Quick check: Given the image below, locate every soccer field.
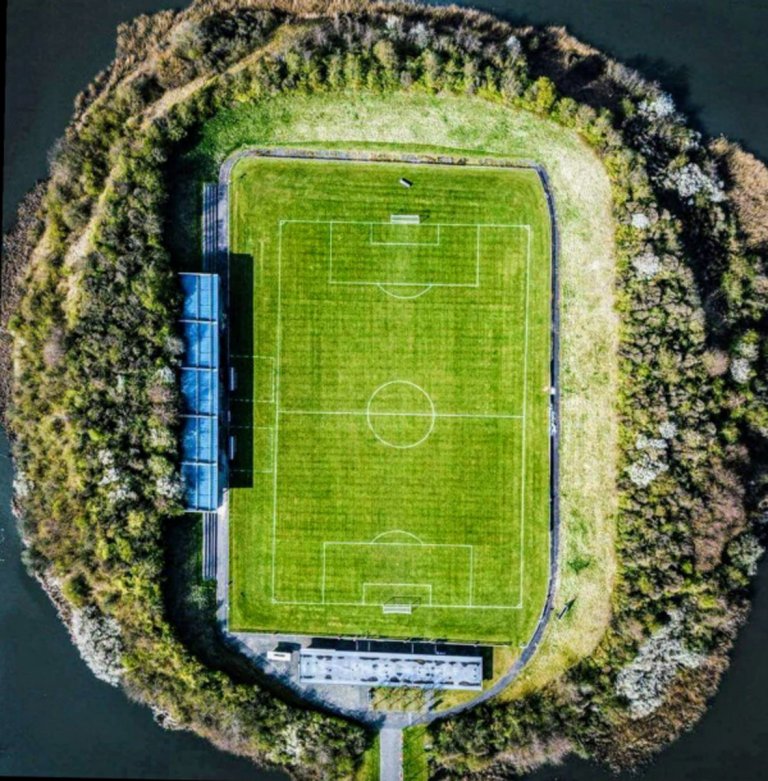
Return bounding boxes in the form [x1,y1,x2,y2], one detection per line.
[230,156,551,644]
